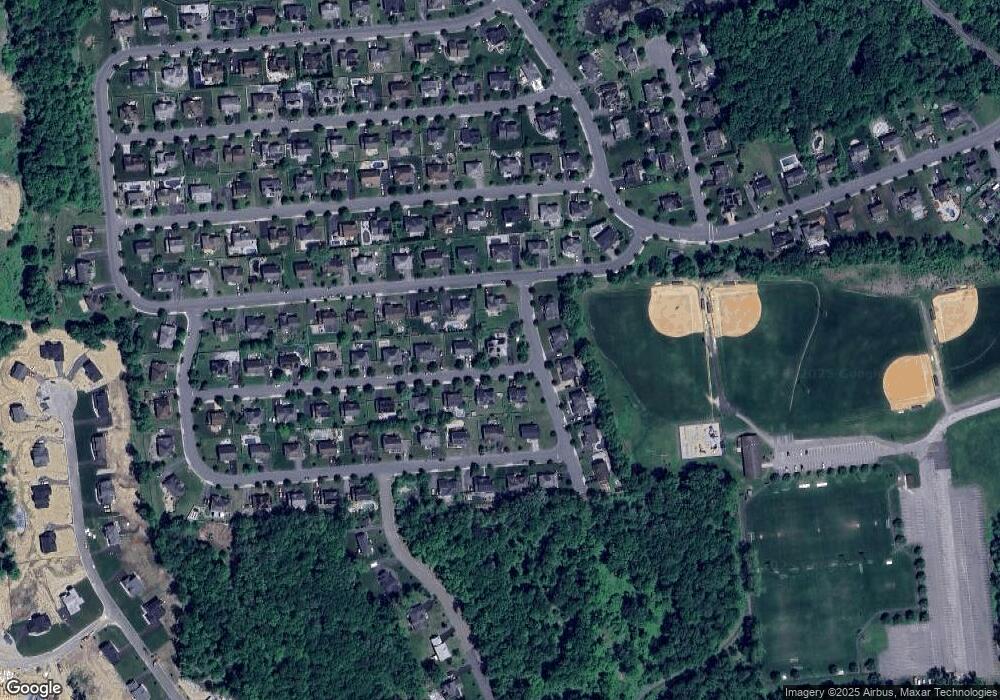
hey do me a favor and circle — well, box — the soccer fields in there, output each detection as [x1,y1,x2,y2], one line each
[748,482,892,568]
[758,551,915,672]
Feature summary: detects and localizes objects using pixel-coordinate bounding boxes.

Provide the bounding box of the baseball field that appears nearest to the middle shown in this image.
[587,280,713,425]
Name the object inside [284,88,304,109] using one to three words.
house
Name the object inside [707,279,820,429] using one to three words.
baseball field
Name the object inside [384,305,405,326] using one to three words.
house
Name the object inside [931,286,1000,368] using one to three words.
baseball field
